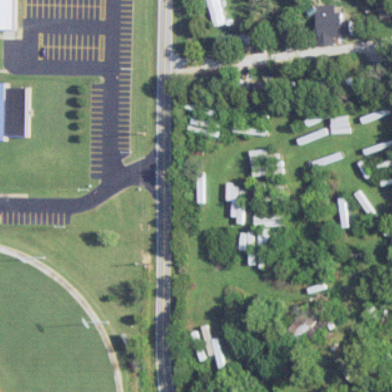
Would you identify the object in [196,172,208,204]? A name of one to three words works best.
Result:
house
